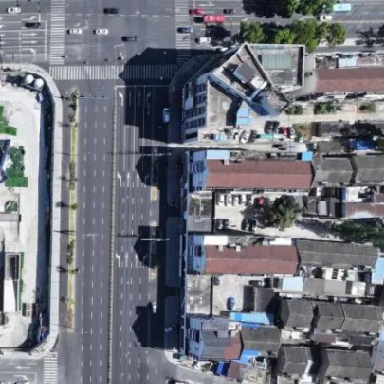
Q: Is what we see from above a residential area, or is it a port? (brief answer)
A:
residential area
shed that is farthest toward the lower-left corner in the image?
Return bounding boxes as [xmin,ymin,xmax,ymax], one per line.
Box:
[2,279,18,313]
